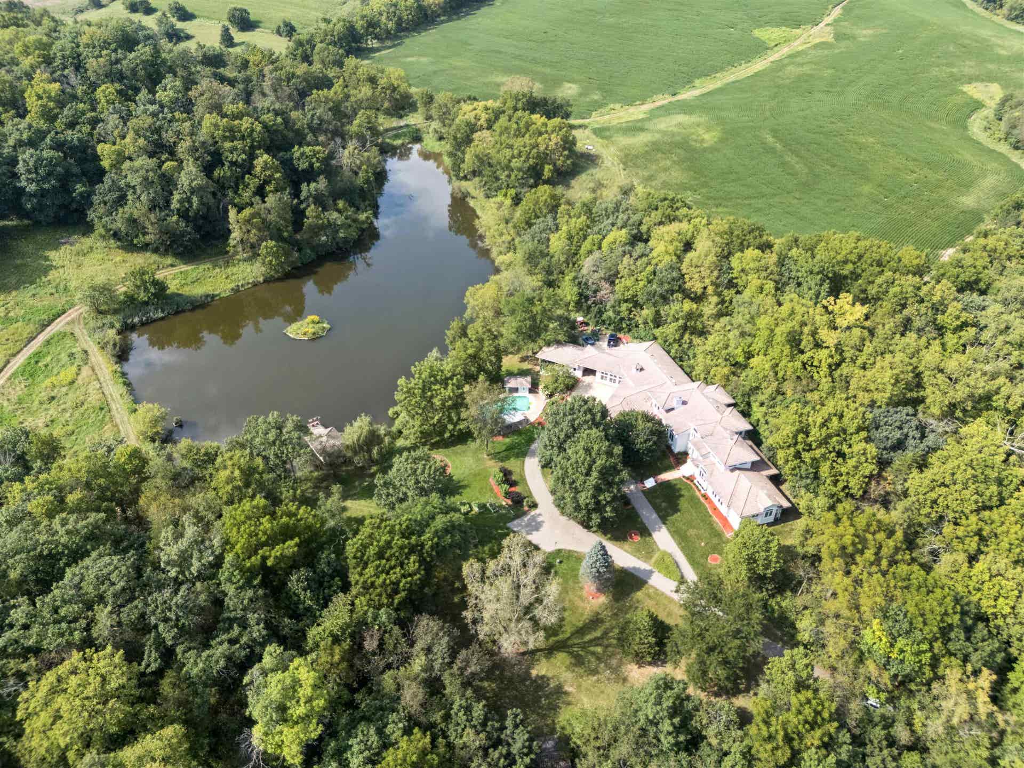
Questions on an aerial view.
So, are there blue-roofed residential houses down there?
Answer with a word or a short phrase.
No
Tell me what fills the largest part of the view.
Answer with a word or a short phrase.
trees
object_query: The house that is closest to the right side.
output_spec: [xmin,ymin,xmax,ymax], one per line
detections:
[535,340,788,527]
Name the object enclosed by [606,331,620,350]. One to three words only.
car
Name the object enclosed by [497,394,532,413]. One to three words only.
swimming pool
